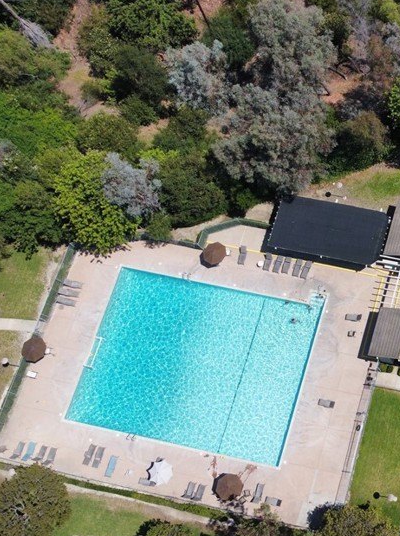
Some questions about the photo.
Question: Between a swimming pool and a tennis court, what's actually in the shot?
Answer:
swimming pool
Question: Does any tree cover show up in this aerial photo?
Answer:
Yes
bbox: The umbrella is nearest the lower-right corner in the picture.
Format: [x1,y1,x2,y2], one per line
[215,472,244,501]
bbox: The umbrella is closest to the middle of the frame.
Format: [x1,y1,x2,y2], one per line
[203,243,227,265]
